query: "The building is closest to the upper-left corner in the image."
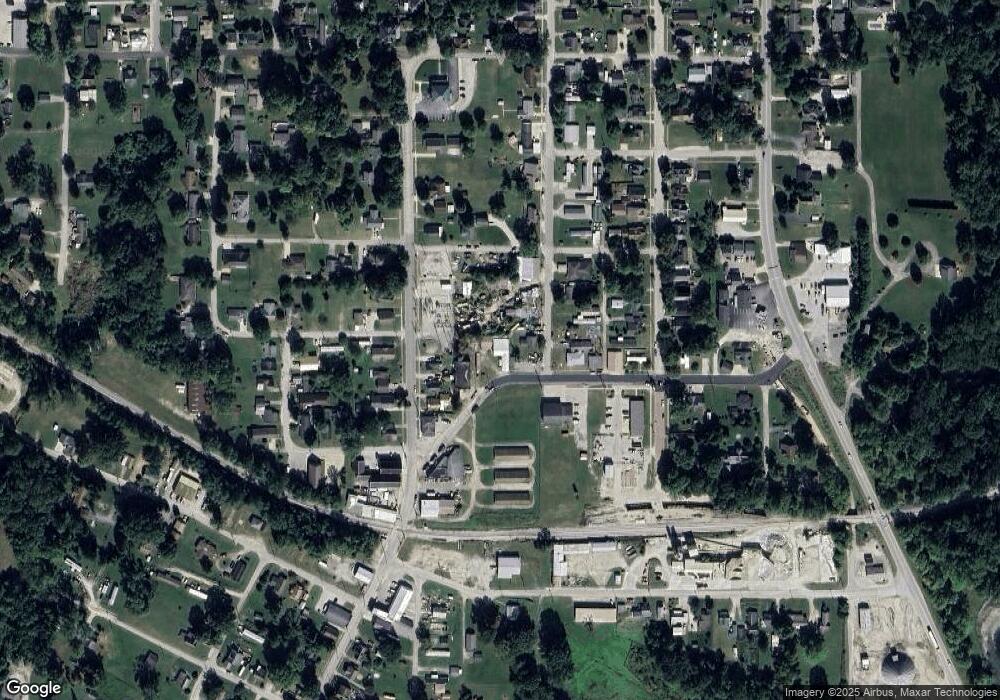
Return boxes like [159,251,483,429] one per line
[13,17,27,49]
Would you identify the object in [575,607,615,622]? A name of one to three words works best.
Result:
shed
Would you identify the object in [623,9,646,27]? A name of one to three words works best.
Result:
house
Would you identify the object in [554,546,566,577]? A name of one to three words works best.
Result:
building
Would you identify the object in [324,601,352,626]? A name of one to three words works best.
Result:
barn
